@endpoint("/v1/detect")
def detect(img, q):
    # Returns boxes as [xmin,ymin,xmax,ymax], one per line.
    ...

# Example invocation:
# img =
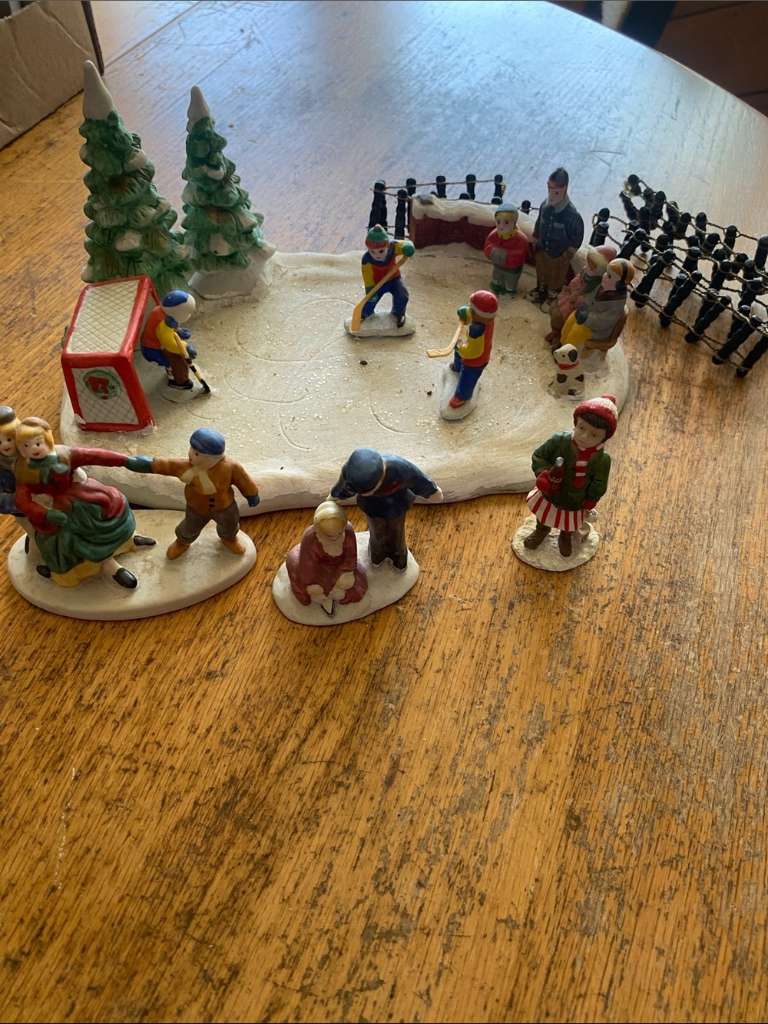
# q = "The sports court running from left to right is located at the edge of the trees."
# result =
[58,236,633,518]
